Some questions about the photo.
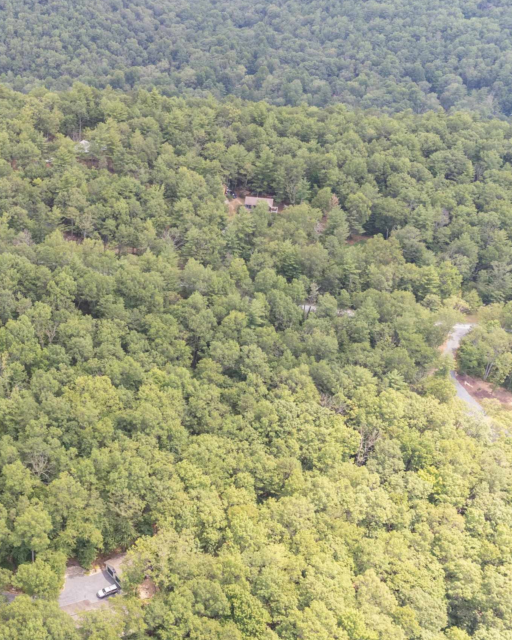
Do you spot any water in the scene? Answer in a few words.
No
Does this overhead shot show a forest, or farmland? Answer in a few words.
forest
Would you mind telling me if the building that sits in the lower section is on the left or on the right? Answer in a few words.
left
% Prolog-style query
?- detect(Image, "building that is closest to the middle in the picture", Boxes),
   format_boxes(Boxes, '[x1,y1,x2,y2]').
[246,196,280,214]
